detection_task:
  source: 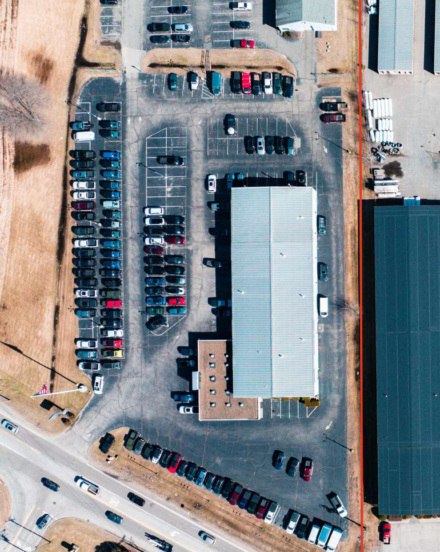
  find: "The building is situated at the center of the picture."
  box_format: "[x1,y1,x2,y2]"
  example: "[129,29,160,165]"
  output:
[192,187,318,420]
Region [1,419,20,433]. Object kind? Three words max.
car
